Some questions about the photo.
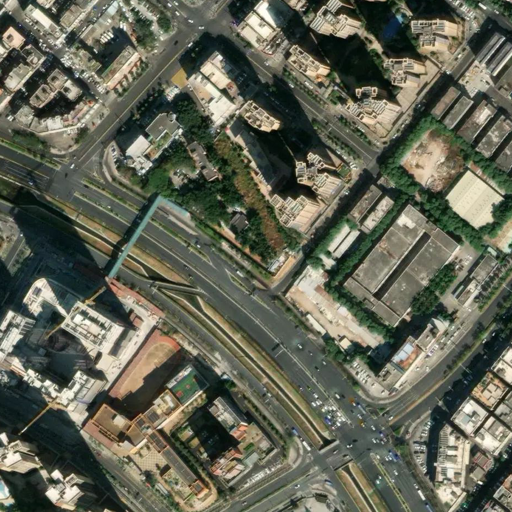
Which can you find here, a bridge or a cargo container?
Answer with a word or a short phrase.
bridge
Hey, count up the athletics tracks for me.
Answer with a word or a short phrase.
one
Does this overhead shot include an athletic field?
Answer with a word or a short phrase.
Yes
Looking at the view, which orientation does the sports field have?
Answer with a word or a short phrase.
at an angle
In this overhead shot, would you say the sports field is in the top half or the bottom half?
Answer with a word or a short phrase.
bottom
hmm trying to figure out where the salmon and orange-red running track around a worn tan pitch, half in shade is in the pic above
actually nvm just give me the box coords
[108,328,180,405]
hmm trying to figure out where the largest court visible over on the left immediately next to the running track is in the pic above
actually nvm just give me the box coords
[168,365,212,405]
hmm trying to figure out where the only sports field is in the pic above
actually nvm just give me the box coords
[119,342,176,402]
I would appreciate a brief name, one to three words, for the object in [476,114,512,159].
building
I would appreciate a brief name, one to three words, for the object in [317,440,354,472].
bridge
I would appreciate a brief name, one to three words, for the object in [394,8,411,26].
swimming pool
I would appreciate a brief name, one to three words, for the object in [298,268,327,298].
shed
